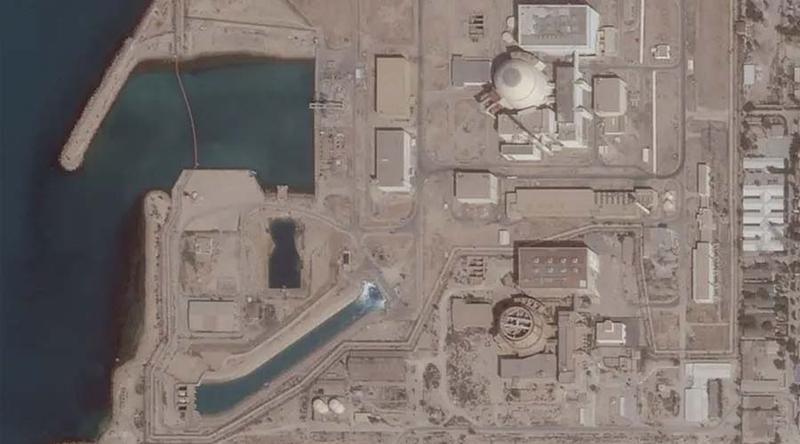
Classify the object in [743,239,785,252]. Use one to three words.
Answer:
shed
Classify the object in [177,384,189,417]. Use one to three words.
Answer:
building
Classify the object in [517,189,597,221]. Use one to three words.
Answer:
building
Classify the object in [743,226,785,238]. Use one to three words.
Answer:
shed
